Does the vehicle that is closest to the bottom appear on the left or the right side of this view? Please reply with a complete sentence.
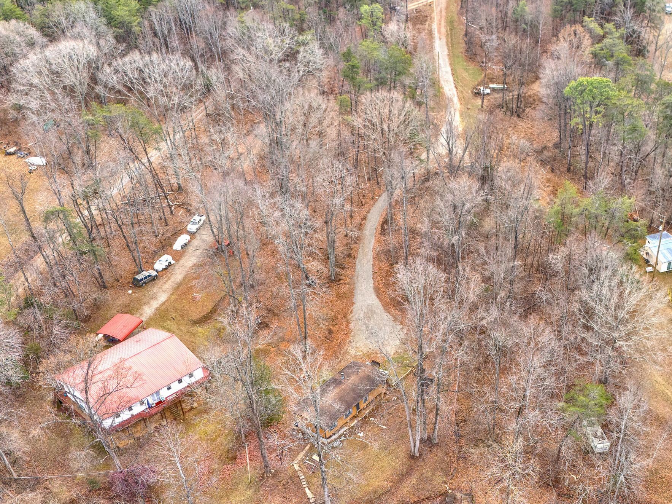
The vehicle that is closest to the bottom appears in the right half of the scene.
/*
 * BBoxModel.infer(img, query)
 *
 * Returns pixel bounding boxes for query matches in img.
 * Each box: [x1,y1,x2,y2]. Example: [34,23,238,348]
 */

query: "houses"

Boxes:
[50,326,217,457]
[295,364,387,448]
[643,235,672,274]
